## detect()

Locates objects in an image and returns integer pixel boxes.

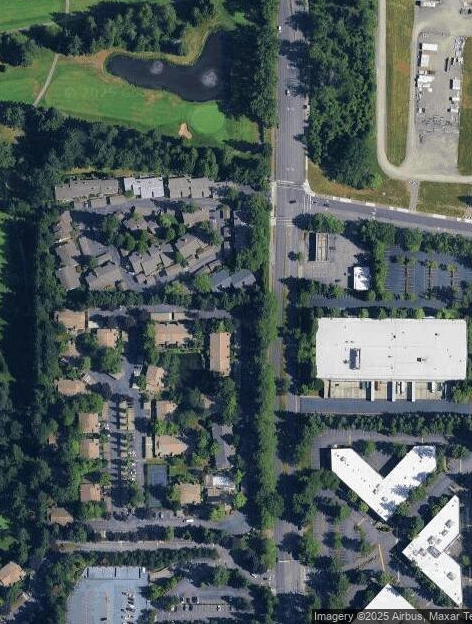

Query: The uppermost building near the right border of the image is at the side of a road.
[316,318,467,384]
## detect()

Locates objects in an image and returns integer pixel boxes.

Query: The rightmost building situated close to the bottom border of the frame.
[402,496,462,607]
